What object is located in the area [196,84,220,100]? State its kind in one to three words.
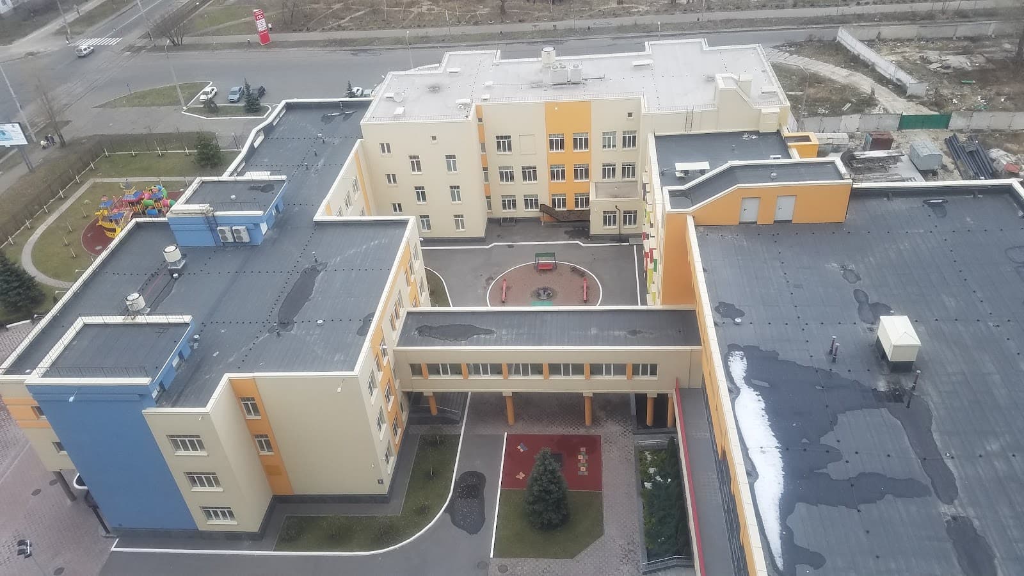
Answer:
car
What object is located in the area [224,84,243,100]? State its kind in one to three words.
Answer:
car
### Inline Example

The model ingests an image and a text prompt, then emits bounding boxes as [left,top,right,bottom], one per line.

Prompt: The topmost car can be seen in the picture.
[72,43,94,56]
